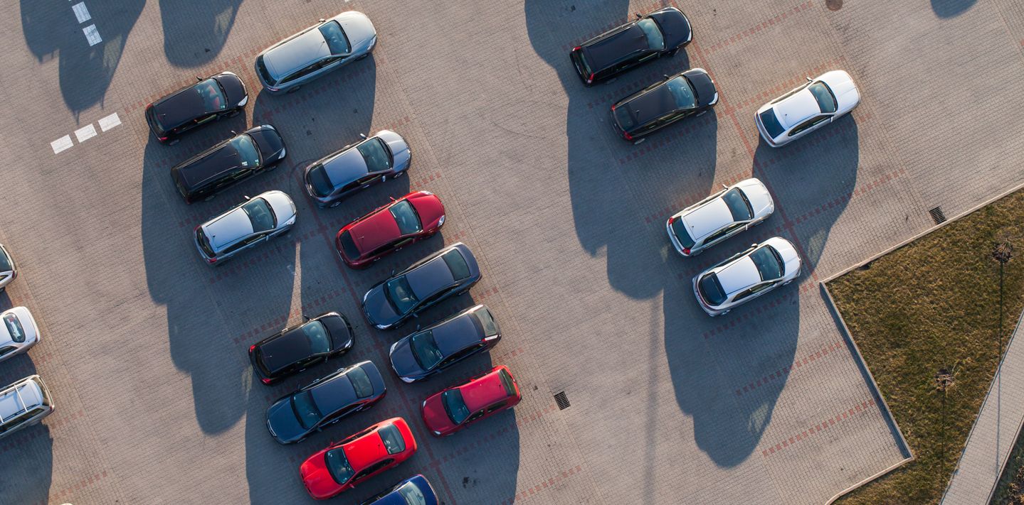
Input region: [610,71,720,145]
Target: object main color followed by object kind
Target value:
black car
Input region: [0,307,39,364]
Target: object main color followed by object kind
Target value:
white car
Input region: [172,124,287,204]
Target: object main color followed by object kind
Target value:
black car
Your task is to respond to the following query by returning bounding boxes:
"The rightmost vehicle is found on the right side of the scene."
[755,77,863,149]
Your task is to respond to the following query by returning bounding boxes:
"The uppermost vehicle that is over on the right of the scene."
[573,11,694,89]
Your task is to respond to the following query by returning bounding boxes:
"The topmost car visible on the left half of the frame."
[255,12,379,96]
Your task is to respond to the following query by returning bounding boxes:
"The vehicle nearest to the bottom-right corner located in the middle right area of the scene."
[695,244,805,317]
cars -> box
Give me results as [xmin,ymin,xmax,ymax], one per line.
[300,415,417,499]
[755,77,863,149]
[305,134,414,208]
[0,242,18,289]
[389,303,503,384]
[252,321,357,387]
[668,182,777,258]
[610,71,720,145]
[267,358,387,445]
[197,192,299,264]
[172,124,287,204]
[334,195,448,273]
[420,365,523,438]
[695,244,805,317]
[147,72,249,144]
[0,307,39,364]
[0,371,53,435]
[255,12,379,96]
[573,11,694,89]
[363,240,482,329]
[349,471,440,505]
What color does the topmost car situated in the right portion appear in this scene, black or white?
black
